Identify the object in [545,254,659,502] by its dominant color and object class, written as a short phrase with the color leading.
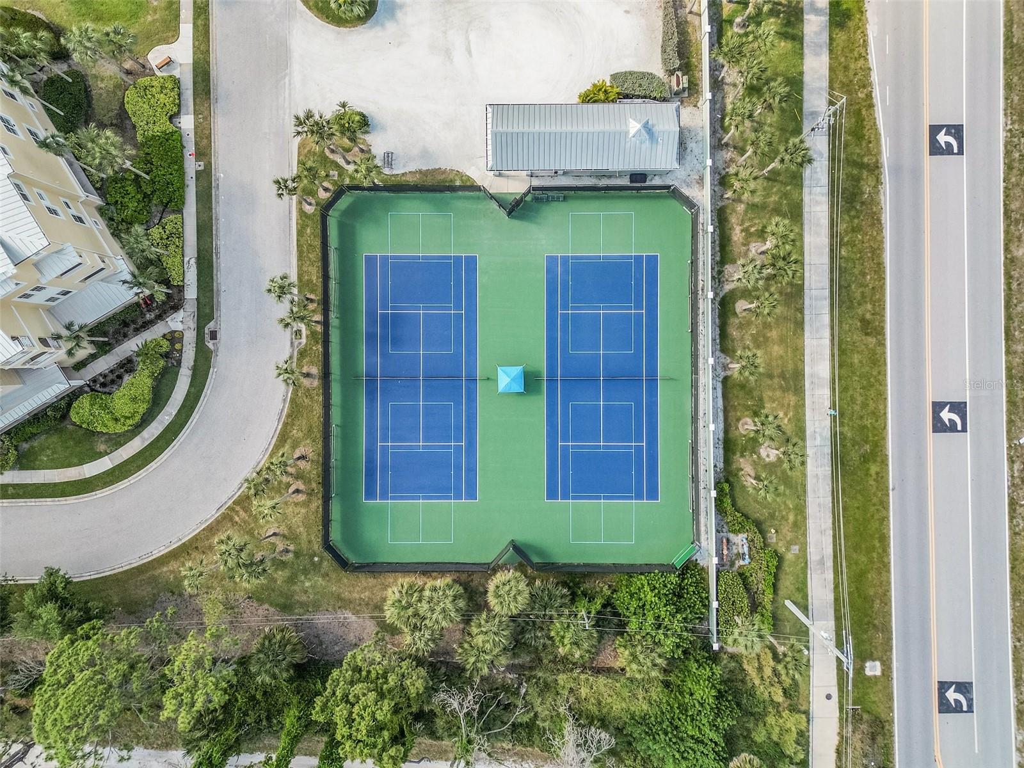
blue tennis court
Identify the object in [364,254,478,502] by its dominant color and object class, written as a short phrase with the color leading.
blue tennis court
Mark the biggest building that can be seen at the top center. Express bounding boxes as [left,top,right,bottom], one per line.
[485,103,681,178]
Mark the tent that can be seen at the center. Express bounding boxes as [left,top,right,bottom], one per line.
[494,362,528,396]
